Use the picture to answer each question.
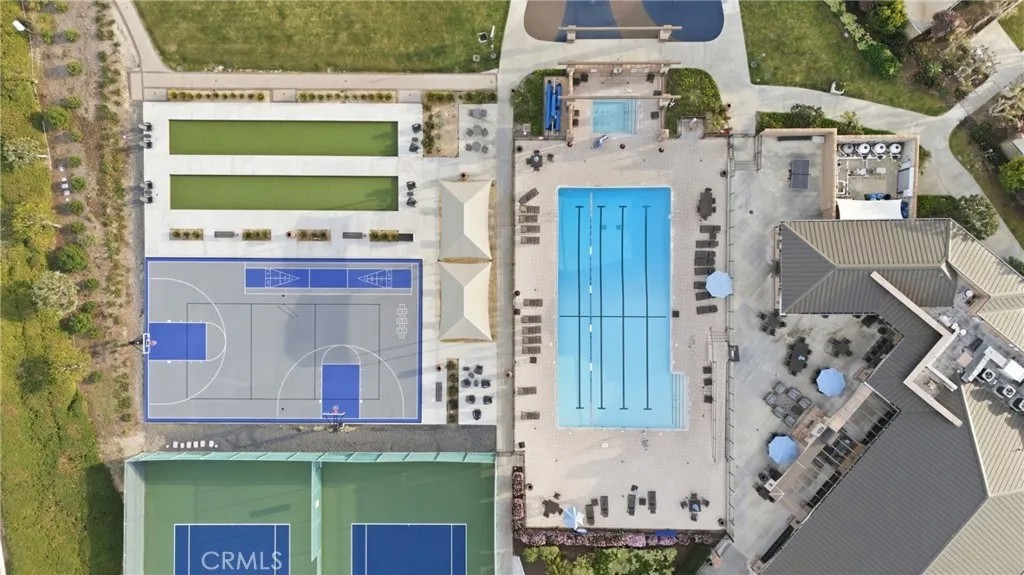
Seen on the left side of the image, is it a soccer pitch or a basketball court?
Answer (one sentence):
There is a basketball court on the left side of the image.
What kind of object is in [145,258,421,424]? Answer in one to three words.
basketball court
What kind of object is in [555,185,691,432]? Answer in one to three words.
swimming pool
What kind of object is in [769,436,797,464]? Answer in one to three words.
umbrella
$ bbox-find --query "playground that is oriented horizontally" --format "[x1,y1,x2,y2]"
[524,0,724,41]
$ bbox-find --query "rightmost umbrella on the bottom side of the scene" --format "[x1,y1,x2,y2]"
[817,368,844,395]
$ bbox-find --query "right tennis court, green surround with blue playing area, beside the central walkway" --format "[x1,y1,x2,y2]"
[319,462,493,575]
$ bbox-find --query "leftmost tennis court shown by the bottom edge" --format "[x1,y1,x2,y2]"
[144,453,319,575]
